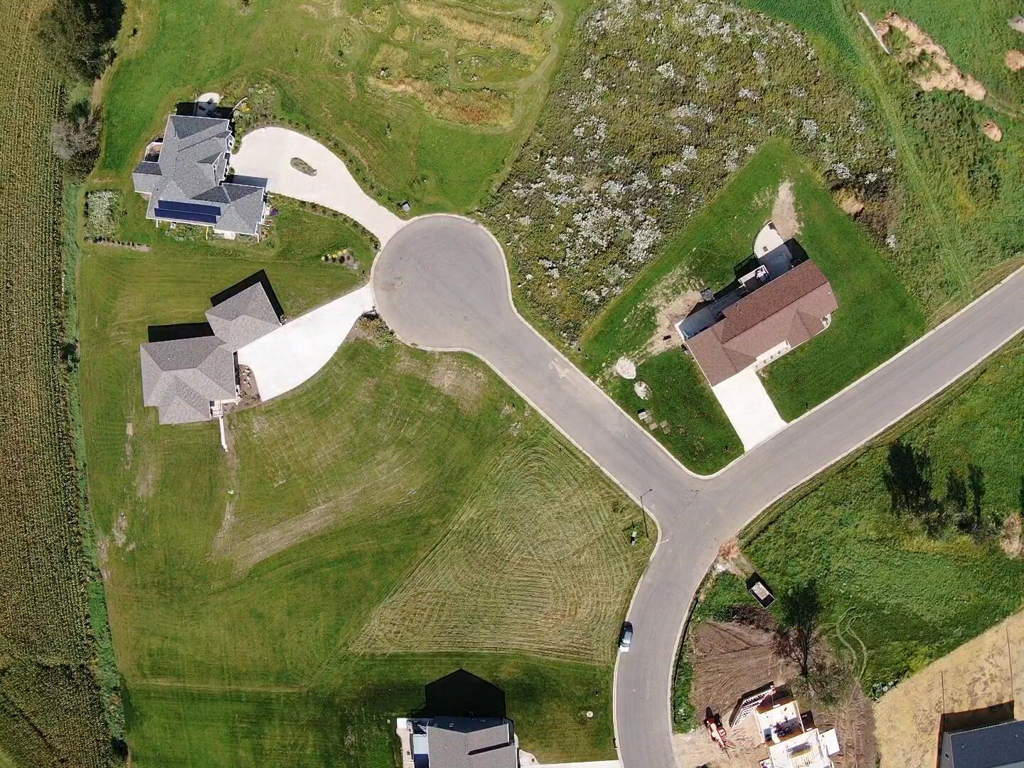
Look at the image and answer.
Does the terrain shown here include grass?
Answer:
Yes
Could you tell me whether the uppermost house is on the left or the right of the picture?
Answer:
left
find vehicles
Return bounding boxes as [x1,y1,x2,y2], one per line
[618,624,631,649]
[709,720,731,755]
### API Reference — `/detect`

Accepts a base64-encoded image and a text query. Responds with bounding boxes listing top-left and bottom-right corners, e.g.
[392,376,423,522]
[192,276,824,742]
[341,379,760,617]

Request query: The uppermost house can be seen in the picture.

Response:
[133,115,271,243]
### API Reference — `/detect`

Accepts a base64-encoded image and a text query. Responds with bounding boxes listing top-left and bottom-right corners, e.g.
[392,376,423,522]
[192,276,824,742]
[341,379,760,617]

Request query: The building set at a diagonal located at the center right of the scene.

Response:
[684,259,838,387]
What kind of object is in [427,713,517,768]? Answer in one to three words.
house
